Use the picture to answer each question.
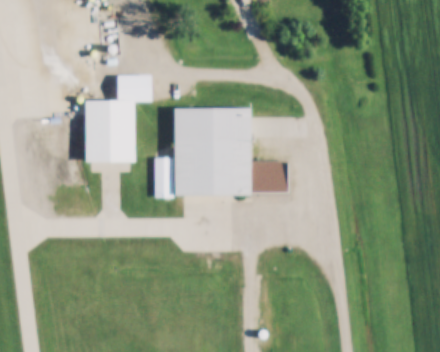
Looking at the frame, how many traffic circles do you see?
zero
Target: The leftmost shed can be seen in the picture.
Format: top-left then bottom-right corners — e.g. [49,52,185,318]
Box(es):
[84,75,151,162]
